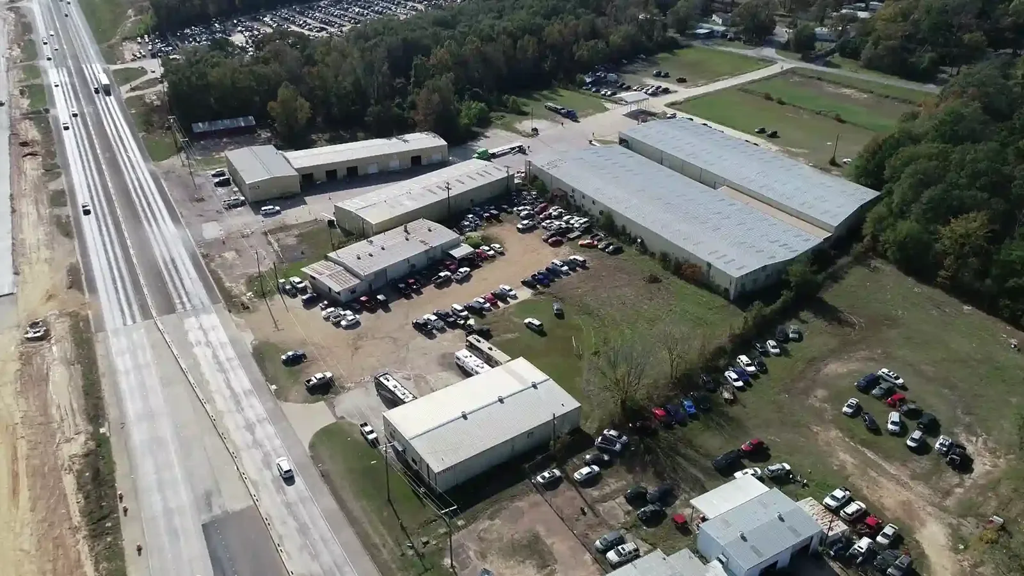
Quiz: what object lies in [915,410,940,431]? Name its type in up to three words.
car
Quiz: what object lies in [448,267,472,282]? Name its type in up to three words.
vehicle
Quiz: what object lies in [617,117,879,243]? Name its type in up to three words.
warehouse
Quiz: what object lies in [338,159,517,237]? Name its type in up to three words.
shed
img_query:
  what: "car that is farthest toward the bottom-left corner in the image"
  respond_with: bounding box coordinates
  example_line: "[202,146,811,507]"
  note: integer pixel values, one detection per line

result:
[275,457,296,484]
